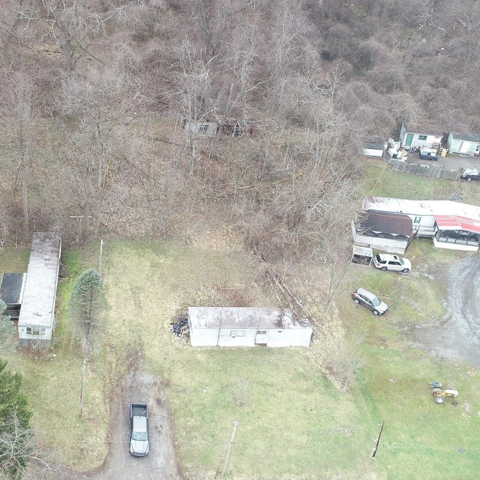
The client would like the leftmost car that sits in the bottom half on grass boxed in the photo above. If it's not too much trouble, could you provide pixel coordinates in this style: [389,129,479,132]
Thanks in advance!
[350,290,390,319]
